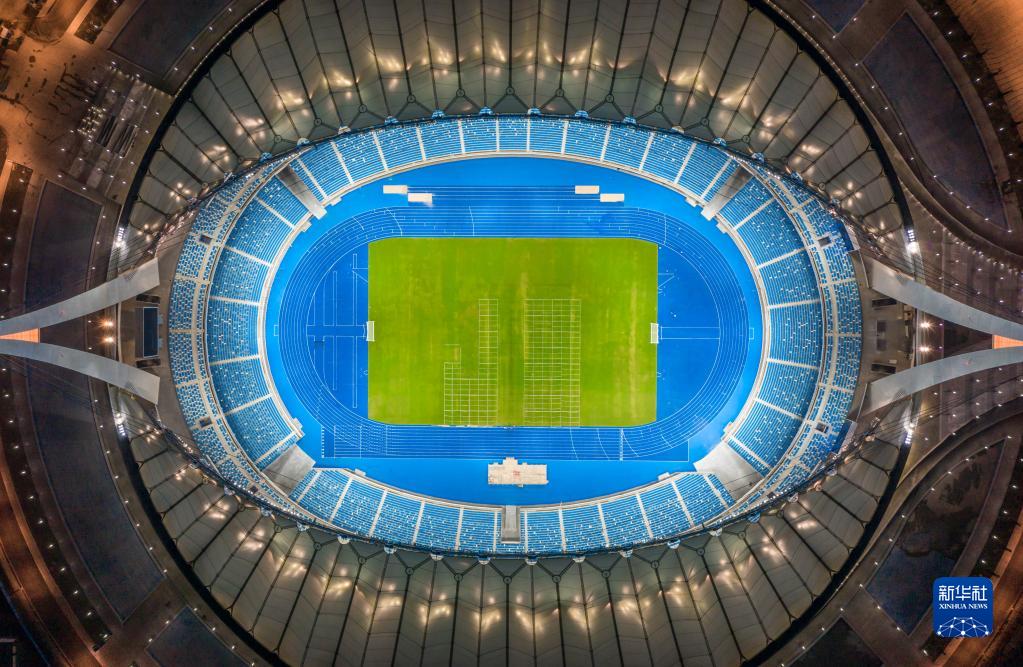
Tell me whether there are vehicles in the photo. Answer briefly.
No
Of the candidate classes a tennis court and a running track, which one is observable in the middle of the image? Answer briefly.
running track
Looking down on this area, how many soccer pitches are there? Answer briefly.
1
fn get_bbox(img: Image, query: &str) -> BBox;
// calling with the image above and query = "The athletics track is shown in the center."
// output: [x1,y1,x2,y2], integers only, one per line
[267,158,762,505]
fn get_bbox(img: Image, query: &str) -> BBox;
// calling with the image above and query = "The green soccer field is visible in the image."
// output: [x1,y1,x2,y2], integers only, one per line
[369,238,657,426]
